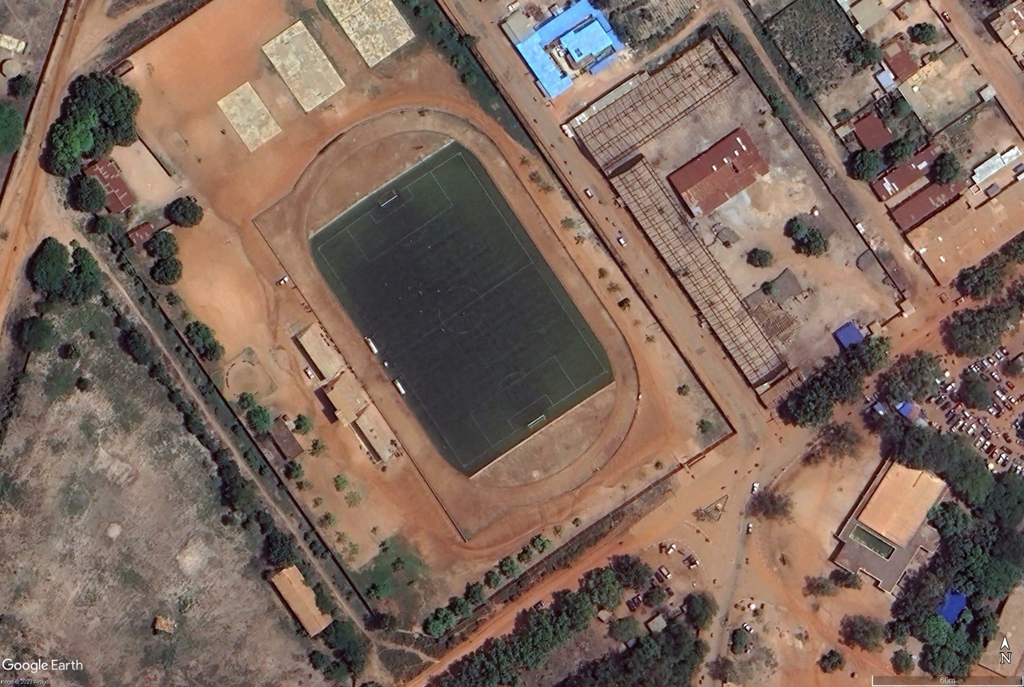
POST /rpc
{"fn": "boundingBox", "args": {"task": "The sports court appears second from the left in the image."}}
[261,20,345,111]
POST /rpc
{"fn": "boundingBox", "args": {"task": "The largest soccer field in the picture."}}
[309,140,615,479]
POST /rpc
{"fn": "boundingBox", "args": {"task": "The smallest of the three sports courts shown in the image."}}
[217,82,282,151]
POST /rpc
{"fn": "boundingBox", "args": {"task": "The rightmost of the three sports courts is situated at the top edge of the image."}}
[324,0,415,67]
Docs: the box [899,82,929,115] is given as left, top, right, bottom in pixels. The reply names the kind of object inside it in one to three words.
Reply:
house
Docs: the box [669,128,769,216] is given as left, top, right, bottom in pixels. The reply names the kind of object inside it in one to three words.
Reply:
building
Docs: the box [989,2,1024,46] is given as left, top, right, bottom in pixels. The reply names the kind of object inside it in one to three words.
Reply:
house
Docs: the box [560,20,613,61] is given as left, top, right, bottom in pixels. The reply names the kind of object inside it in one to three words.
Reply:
building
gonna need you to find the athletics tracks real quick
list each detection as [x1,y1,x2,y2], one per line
[254,109,639,541]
